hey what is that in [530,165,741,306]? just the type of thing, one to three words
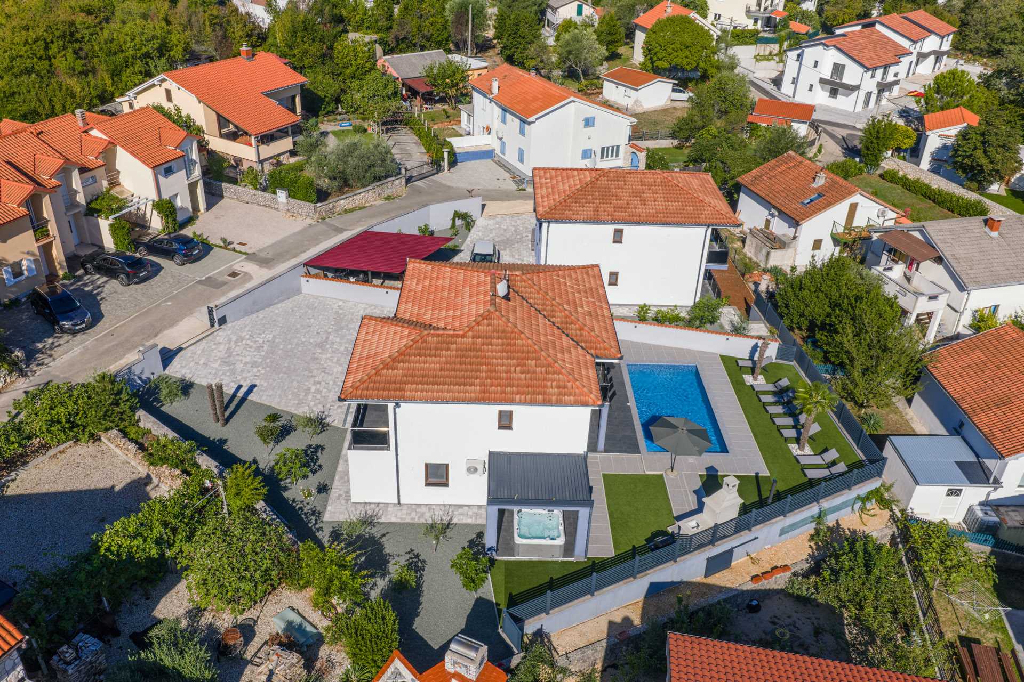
house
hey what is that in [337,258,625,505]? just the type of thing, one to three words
house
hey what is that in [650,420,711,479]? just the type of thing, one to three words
umbrella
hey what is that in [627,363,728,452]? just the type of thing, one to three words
swimming pool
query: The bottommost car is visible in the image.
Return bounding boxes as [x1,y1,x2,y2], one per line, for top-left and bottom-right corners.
[27,272,88,326]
